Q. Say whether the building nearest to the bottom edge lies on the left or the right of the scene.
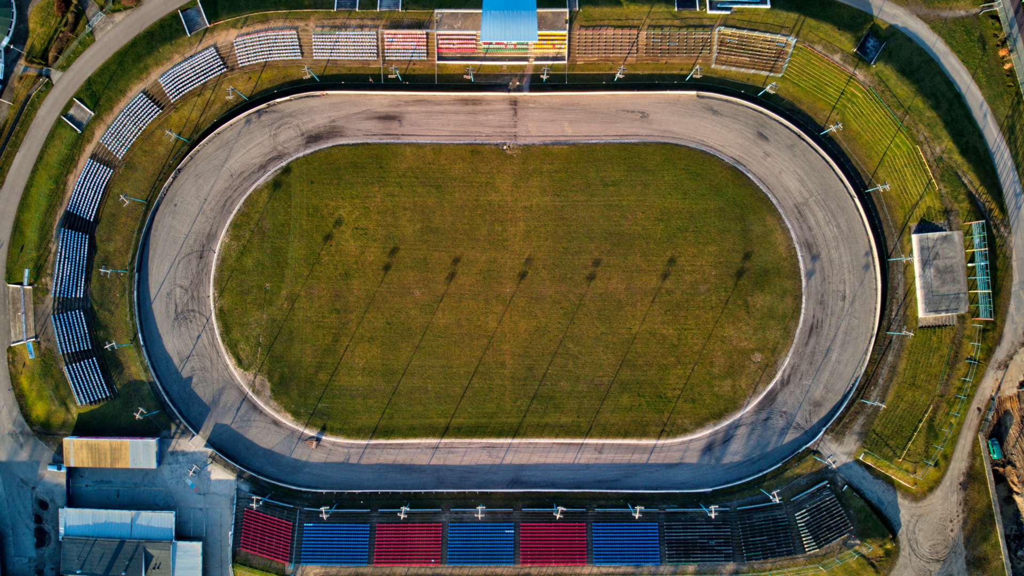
left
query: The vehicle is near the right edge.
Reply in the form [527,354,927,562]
[988,437,1005,461]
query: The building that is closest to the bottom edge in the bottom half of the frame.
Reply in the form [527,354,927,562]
[59,506,206,576]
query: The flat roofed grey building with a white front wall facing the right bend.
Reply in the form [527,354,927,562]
[912,230,968,316]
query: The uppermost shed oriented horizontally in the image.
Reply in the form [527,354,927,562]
[63,437,162,468]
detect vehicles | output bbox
[44,462,66,471]
[302,440,319,450]
[988,437,1005,461]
